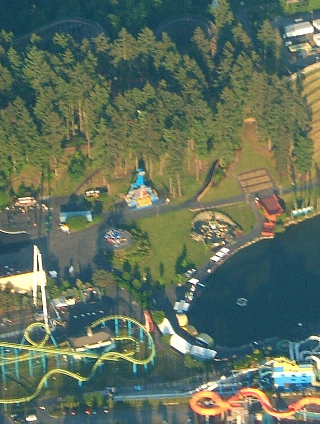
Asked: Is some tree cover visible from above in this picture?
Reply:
Yes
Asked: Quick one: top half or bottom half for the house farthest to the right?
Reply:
bottom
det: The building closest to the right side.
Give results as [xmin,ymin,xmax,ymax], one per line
[272,360,317,391]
